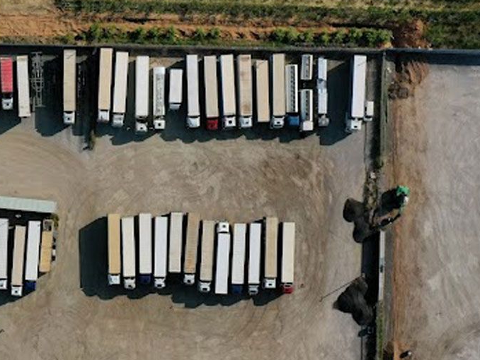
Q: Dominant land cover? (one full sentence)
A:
The scene is dominated by paved ground.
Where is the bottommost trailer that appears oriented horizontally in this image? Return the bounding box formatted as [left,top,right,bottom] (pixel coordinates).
[0,197,55,213]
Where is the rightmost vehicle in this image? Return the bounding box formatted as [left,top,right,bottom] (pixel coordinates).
[378,181,413,215]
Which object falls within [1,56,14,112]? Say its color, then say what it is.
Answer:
red vehicle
